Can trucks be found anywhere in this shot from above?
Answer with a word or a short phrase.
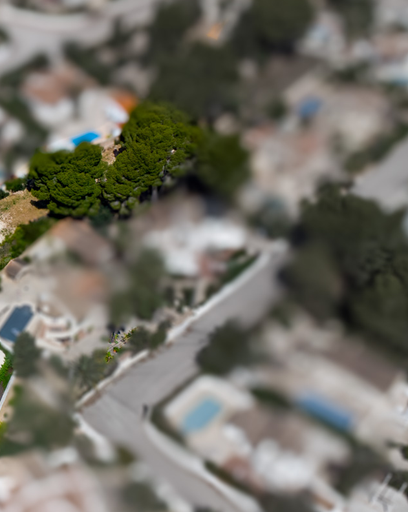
No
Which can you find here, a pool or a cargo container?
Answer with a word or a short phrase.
pool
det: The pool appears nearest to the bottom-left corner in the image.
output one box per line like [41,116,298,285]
[0,300,40,345]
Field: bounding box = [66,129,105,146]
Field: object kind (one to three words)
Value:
swimming pool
